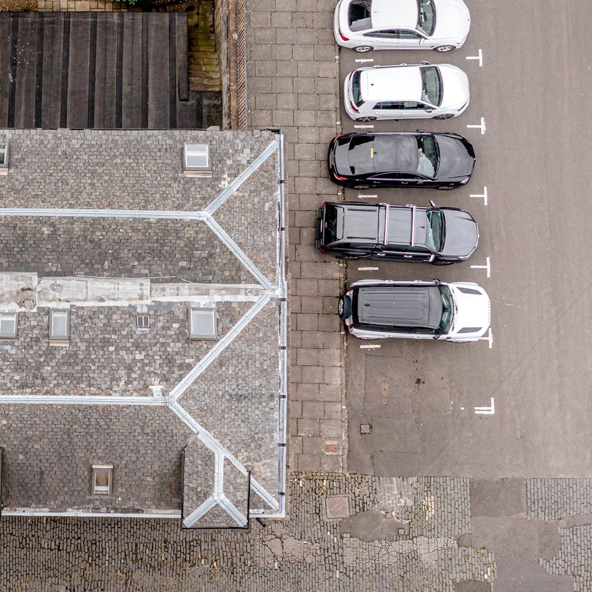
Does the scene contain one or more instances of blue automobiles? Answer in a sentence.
No, I find no blue automobile anywhere in the image.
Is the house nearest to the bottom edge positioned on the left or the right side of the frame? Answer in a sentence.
The house nearest to the bottom edge appears in the left half of the scene.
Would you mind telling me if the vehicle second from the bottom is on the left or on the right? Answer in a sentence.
It is on the right.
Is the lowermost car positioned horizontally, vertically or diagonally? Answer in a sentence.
The lowermost car has been laid out horizontally relative to the frame.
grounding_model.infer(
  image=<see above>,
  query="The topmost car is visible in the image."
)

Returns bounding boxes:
[334,0,469,55]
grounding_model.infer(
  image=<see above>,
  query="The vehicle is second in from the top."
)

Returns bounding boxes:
[343,56,468,122]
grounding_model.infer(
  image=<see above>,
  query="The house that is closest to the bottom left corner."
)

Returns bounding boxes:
[0,127,289,529]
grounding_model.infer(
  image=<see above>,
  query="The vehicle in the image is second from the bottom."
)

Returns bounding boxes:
[313,194,479,267]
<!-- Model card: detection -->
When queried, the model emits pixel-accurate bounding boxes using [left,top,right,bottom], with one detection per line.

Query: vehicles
[343,56,468,122]
[334,0,469,55]
[339,273,493,346]
[313,194,479,267]
[329,125,472,192]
